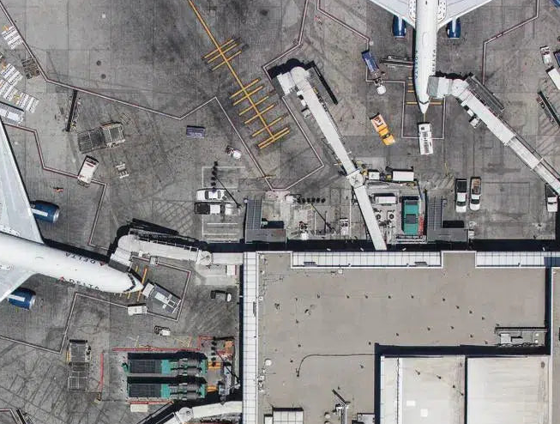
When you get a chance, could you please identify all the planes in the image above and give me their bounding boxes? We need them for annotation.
[0,124,144,308]
[368,0,494,114]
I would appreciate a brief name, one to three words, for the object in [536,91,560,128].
work vehicle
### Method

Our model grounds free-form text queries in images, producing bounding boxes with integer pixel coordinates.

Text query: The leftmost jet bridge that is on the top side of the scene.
[269,66,394,251]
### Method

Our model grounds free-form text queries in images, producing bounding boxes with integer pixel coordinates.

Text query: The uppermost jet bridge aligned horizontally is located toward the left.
[106,224,243,272]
